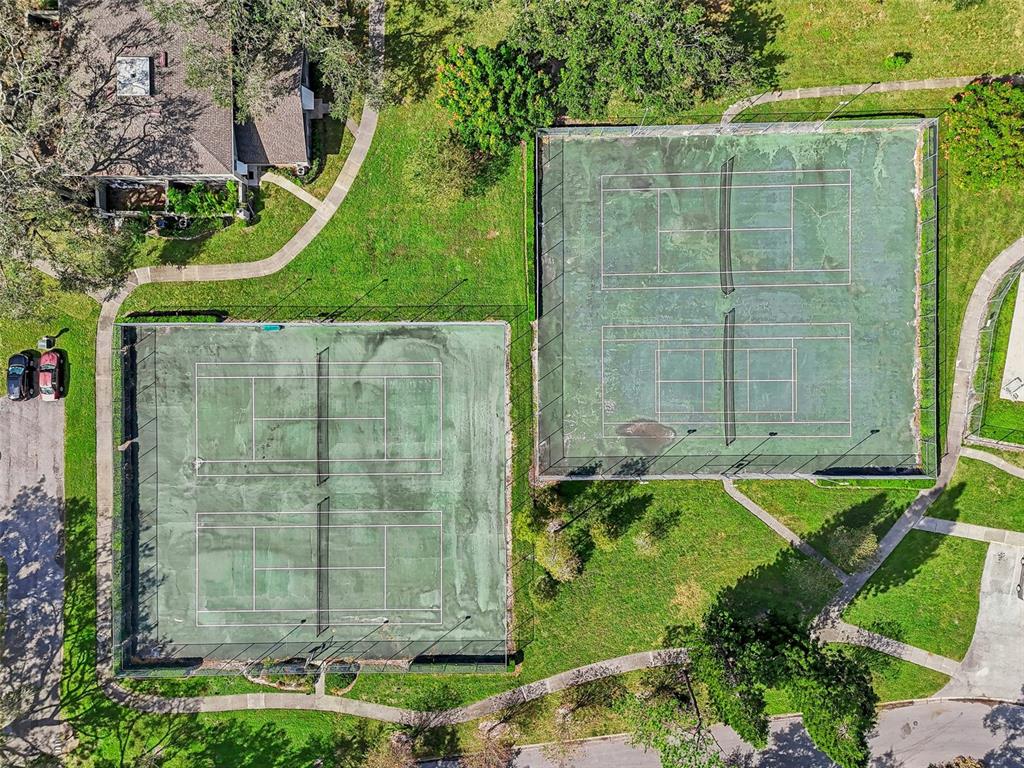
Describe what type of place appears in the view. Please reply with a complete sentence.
The area seen from above is a sports ground.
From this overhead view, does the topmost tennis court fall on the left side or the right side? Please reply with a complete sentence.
It is on the right.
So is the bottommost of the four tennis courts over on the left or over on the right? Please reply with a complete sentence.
The bottommost of the four tennis courts appears in the left half of the scene.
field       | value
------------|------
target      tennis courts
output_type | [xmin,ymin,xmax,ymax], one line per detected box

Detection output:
[538,129,917,307]
[131,323,507,496]
[538,303,917,475]
[131,493,508,661]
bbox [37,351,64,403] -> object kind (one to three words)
car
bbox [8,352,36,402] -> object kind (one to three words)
car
